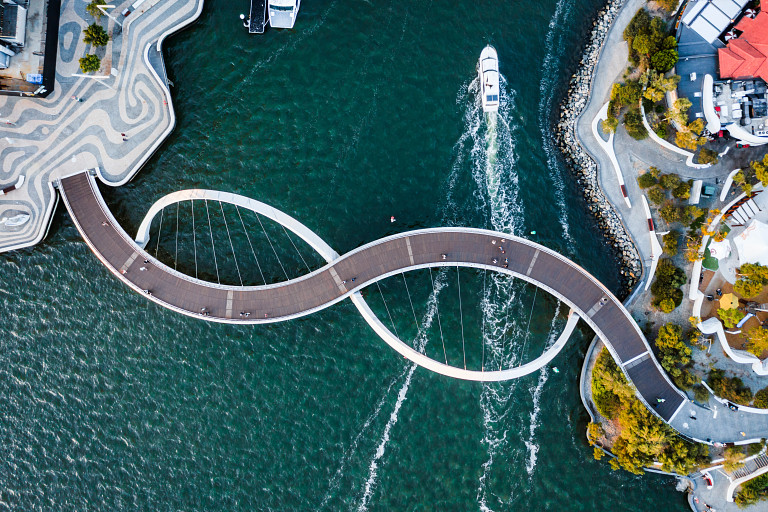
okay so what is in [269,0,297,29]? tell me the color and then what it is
white boat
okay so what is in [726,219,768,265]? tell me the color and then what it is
white tent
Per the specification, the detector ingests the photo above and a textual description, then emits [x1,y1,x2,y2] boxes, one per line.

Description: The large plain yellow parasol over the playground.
[719,291,740,310]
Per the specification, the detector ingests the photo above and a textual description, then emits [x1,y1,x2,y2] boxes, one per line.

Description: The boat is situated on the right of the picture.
[482,41,500,114]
